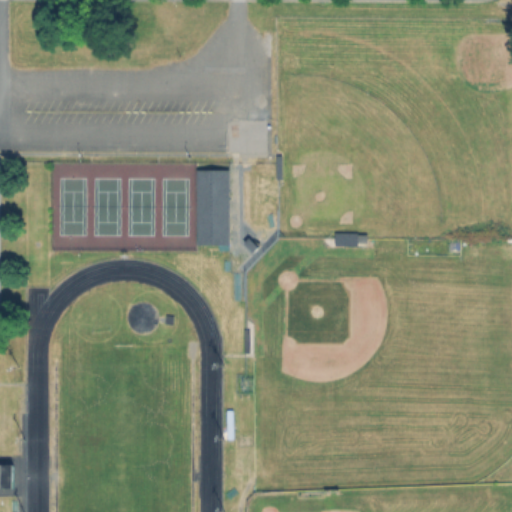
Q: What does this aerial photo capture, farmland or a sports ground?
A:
sports ground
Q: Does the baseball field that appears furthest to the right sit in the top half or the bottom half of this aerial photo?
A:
top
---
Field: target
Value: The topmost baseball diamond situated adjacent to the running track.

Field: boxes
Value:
[279,20,512,237]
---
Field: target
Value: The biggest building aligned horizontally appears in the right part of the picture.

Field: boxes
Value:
[335,234,368,247]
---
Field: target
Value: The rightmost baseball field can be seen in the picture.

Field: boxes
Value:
[456,34,512,89]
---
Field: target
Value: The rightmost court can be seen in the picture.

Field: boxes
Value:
[160,178,192,236]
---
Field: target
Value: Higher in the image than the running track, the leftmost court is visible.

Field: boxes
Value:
[58,178,90,236]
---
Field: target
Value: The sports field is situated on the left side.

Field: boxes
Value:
[48,280,202,512]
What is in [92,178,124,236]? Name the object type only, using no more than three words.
tennis court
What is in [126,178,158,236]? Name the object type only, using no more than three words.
tennis court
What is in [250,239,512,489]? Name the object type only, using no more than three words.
baseball field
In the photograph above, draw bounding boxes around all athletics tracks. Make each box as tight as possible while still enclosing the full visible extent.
[28,260,222,512]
